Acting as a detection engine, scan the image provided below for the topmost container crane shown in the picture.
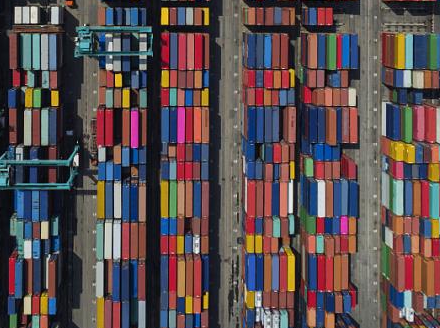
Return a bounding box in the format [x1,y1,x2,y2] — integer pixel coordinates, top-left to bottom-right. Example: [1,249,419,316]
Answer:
[72,22,158,55]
